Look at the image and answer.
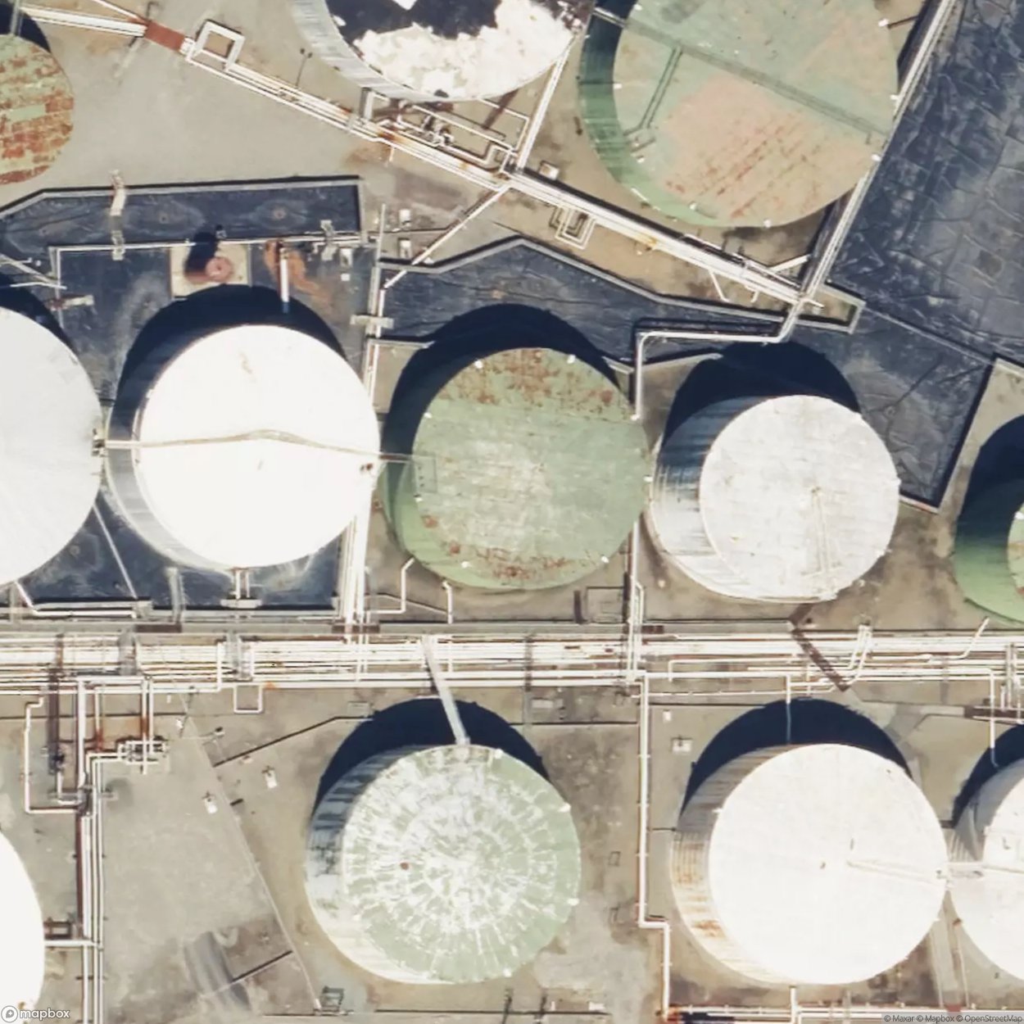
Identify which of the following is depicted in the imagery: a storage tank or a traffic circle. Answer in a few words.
storage tank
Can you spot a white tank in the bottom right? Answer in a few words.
Yes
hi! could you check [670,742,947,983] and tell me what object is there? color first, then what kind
white storage tank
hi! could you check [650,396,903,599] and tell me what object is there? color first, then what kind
white storage tank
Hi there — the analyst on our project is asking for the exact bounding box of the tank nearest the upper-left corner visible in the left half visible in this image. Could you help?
[0,33,75,185]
